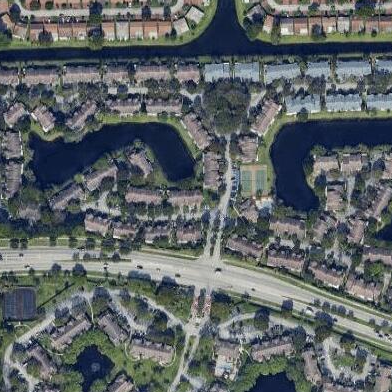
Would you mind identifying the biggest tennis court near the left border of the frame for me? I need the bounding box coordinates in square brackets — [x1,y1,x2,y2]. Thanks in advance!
[3,288,36,320]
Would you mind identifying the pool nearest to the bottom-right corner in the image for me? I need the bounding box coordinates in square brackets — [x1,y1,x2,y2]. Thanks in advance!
[216,356,240,381]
